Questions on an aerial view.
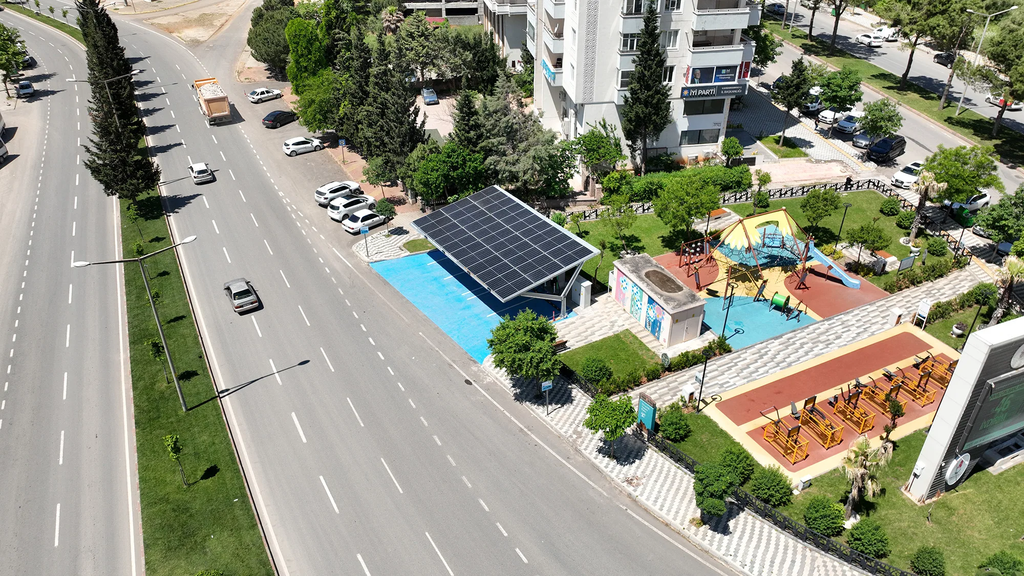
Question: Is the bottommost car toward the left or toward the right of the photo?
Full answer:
The bottommost car is on the left side of the image.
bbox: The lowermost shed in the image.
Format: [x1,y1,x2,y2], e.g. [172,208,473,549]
[604,254,708,347]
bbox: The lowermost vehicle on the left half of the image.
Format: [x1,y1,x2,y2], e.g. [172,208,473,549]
[223,276,263,315]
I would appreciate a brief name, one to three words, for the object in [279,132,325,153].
car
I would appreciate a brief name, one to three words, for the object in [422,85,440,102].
car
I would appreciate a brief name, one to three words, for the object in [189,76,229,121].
truck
